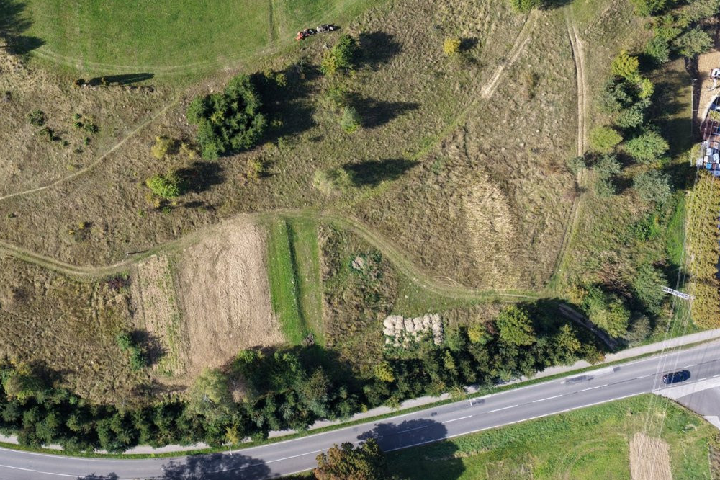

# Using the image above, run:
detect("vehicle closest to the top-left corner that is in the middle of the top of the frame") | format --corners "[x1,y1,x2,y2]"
[292,26,312,39]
